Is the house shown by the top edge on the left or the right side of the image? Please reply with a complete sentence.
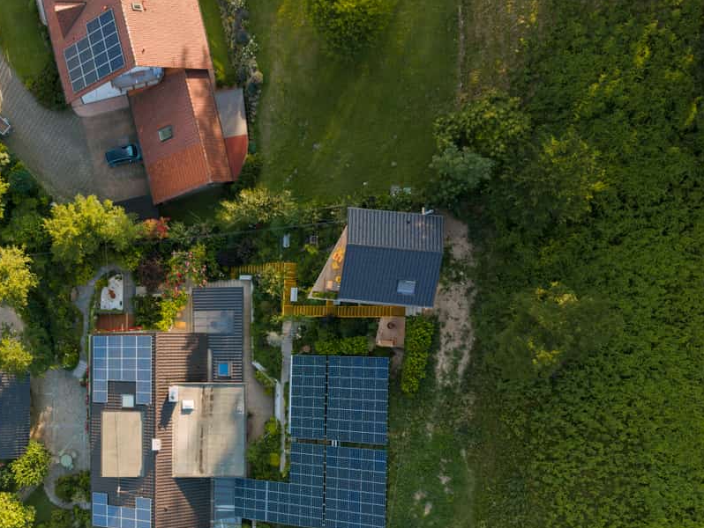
You can find the house shown by the top edge on the left side of the picture.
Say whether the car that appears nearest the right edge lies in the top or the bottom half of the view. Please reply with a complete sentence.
The car that appears nearest the right edge is in the top half of the image.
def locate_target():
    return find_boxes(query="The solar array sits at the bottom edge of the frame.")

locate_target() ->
[91,493,150,528]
